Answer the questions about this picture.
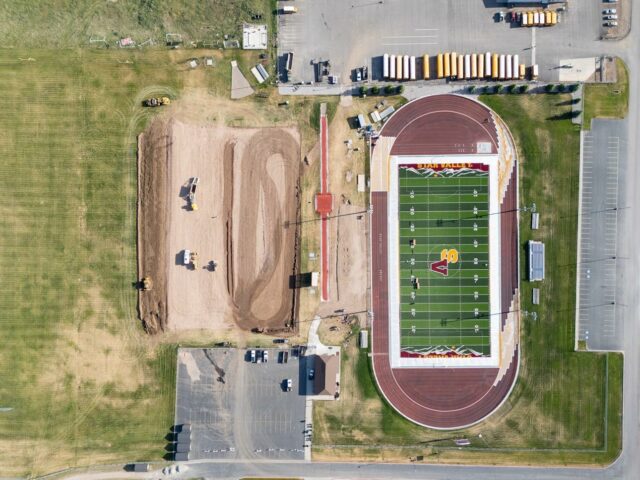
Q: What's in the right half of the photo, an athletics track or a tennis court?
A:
athletics track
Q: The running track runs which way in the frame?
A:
from top to bottom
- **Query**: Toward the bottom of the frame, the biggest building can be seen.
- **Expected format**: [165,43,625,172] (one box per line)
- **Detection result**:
[310,356,338,397]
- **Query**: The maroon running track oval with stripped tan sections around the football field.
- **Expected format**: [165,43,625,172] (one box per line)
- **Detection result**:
[369,94,519,431]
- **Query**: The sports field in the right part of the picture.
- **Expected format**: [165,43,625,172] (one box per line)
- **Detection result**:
[388,155,501,368]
